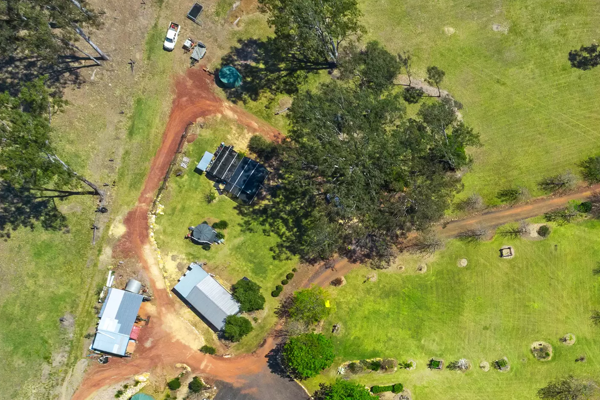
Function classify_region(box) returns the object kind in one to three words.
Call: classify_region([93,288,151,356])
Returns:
building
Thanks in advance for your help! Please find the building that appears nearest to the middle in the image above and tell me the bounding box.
[208,146,274,208]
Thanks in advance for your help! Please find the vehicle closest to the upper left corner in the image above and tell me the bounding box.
[160,18,179,51]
